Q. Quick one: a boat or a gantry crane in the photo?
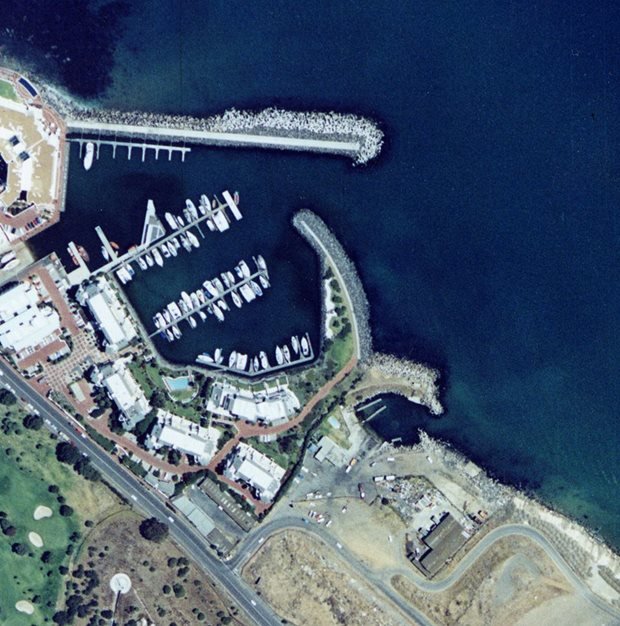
boat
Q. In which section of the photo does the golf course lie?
bottom left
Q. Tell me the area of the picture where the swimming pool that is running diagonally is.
top left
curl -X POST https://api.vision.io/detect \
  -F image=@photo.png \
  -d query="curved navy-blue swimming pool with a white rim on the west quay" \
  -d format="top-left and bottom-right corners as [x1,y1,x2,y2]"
[17,76,38,98]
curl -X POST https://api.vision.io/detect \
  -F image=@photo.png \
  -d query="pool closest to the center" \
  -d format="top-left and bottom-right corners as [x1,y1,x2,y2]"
[165,377,189,391]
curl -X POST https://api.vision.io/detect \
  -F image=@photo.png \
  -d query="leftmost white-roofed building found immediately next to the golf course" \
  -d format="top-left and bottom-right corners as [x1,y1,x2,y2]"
[0,281,59,356]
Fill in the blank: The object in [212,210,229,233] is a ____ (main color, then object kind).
white vessel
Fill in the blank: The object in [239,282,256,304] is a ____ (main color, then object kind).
white boat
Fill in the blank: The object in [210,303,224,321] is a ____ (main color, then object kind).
white boat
